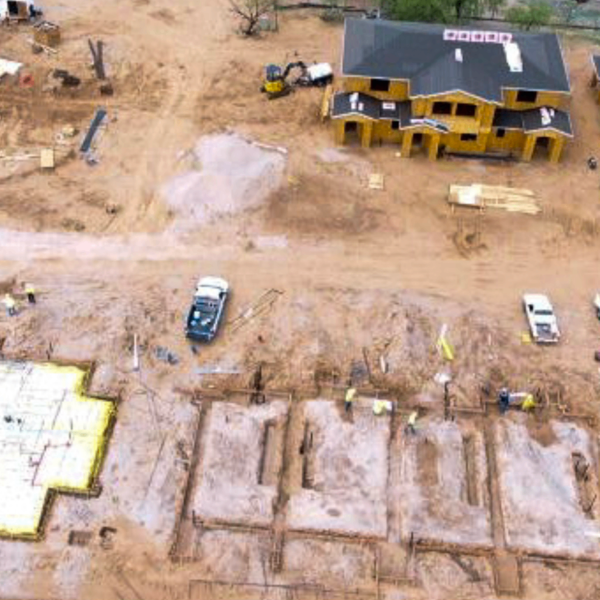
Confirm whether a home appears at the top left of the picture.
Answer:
No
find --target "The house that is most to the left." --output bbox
[330,18,574,163]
